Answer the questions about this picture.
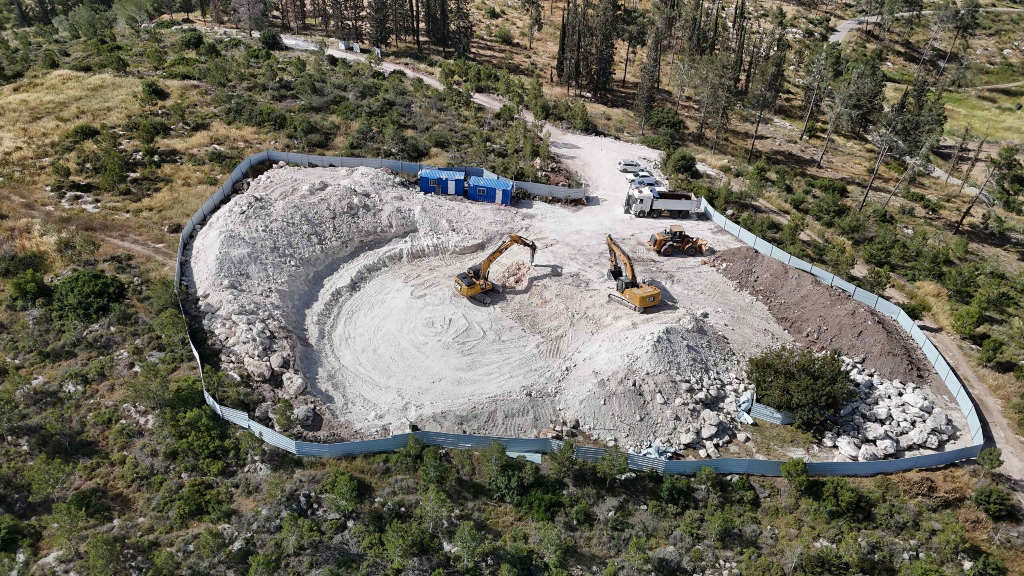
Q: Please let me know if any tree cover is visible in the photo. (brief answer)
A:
Yes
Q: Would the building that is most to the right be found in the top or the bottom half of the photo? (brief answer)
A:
top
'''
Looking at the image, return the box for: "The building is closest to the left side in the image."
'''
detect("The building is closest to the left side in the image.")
[417,168,467,197]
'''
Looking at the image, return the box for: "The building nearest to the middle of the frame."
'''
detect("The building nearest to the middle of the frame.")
[466,175,516,207]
